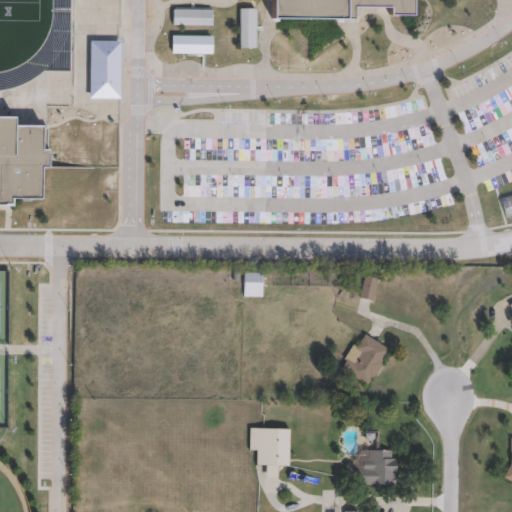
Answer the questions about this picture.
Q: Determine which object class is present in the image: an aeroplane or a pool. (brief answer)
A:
pool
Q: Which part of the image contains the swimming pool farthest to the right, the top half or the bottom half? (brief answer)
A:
bottom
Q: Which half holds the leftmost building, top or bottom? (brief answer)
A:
top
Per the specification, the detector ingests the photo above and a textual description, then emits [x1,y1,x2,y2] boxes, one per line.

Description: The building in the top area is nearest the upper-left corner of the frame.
[91,40,121,98]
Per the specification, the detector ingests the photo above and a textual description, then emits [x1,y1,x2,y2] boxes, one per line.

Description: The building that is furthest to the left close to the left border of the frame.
[0,117,51,206]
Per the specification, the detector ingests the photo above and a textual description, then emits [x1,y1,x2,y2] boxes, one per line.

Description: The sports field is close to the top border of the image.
[0,0,53,72]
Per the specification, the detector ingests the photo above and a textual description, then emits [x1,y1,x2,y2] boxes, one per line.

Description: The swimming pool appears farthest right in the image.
[340,426,366,458]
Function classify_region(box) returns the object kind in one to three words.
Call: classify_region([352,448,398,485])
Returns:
house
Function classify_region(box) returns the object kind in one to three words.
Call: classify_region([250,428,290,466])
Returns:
house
